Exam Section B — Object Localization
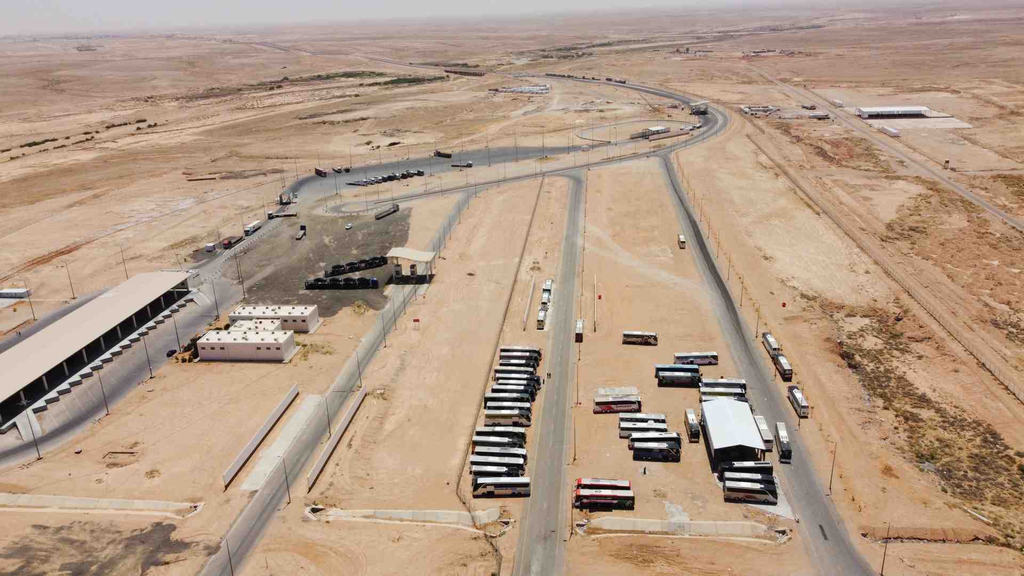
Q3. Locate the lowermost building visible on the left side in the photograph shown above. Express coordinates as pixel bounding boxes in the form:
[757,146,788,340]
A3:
[192,309,323,362]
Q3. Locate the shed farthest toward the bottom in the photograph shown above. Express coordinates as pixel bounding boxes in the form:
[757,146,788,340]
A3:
[699,398,769,472]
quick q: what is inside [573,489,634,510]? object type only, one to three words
bus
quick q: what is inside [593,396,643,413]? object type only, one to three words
vehicle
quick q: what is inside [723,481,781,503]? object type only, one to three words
bus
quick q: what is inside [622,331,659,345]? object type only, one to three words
vehicle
